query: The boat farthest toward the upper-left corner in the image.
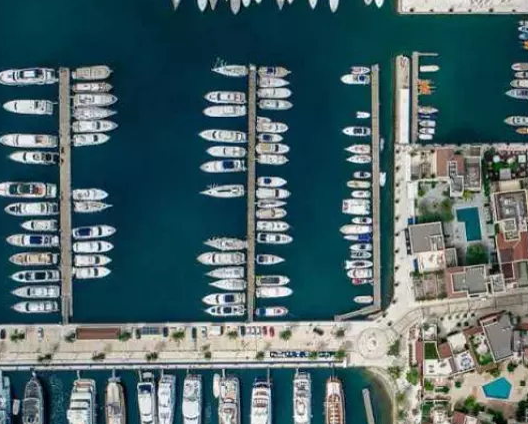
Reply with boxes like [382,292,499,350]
[0,66,58,84]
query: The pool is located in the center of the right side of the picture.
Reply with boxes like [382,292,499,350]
[455,205,484,243]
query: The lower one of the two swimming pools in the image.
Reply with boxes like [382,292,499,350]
[481,375,514,401]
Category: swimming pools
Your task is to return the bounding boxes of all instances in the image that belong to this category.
[481,375,514,401]
[455,205,484,243]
